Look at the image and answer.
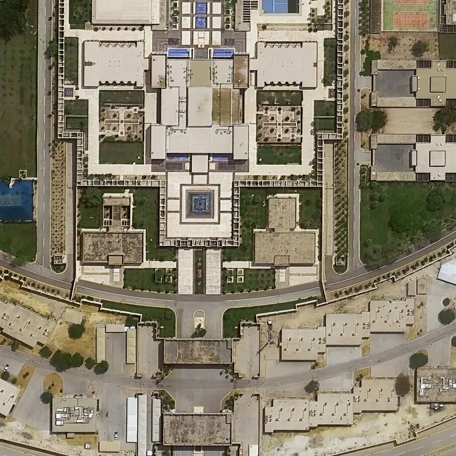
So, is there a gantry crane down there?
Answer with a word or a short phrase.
No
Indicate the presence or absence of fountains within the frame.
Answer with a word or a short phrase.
Yes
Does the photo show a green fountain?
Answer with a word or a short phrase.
No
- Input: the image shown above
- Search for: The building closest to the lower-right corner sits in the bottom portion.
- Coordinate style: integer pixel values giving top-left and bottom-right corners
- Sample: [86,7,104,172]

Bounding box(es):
[417,367,456,403]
